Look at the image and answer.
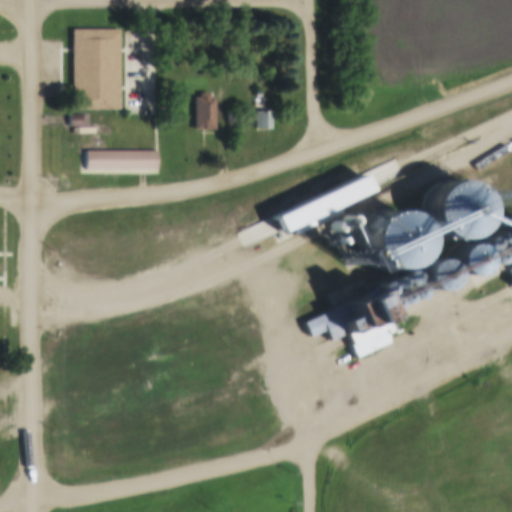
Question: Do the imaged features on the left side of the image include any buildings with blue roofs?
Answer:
No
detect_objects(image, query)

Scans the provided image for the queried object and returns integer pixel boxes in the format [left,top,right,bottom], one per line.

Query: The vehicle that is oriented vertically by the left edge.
[24,430,36,483]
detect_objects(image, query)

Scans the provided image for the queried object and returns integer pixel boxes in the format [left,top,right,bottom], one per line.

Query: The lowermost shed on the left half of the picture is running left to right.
[84,150,162,174]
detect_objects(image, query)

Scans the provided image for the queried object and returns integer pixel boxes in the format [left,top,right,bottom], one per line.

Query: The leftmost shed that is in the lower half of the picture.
[302,315,330,338]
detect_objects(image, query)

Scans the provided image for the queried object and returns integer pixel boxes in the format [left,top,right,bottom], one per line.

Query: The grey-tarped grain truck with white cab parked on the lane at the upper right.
[474,138,512,168]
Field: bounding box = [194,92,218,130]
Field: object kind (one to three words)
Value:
house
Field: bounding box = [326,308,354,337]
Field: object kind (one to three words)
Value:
shed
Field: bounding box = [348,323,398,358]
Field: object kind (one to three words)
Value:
building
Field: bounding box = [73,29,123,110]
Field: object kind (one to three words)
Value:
building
